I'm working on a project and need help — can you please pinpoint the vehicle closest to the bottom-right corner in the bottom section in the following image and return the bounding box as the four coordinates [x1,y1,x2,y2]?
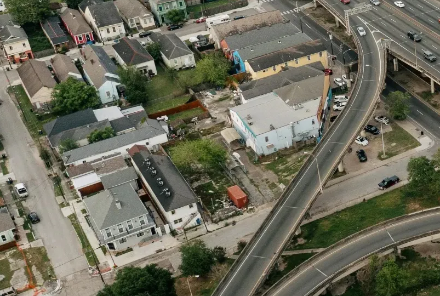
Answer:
[376,173,400,188]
